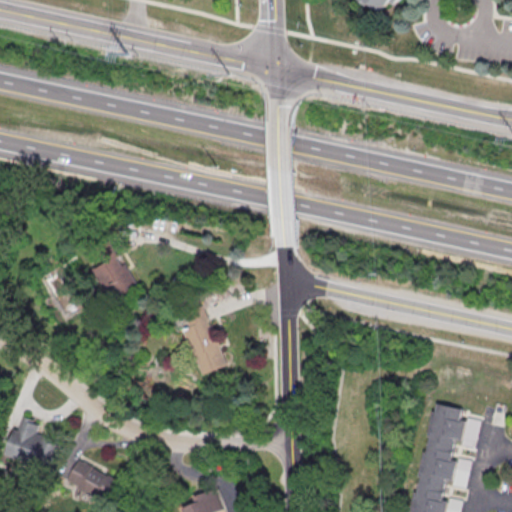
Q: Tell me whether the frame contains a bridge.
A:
Yes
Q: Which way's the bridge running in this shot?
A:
from top to bottom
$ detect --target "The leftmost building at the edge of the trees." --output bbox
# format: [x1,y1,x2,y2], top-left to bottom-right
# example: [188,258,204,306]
[2,416,58,460]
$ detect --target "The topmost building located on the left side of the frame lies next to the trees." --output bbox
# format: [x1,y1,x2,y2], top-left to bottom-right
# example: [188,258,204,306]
[92,246,138,294]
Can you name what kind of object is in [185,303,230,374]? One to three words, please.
house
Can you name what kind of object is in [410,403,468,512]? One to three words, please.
building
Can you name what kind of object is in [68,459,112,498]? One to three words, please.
house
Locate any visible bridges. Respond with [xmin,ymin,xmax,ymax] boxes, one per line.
[265,98,297,248]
